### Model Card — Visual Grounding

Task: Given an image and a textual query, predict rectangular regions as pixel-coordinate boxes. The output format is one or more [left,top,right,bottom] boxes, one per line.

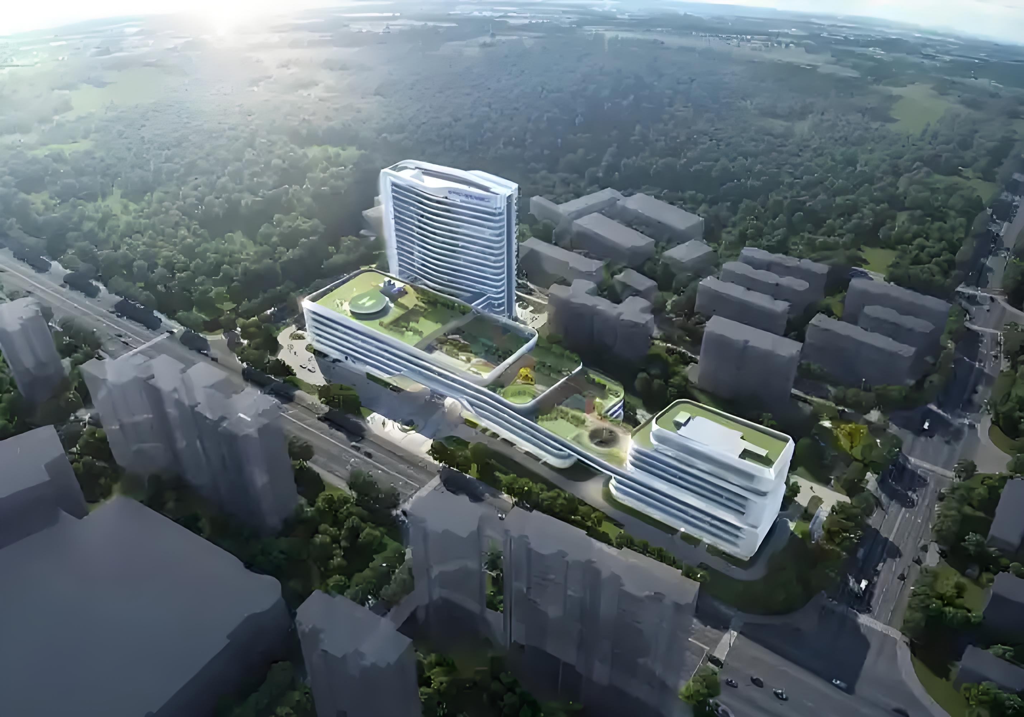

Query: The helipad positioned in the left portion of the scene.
[348,291,386,313]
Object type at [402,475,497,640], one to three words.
building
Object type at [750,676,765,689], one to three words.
vehicle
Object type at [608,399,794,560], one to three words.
building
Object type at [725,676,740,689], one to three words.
vehicle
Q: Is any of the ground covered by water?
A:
No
